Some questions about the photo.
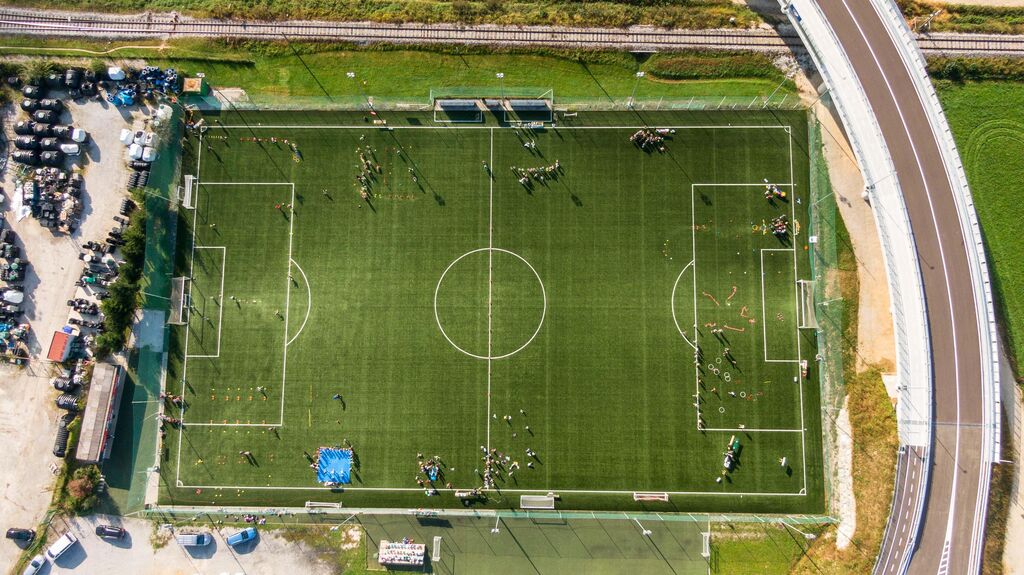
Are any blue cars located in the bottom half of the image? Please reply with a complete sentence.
Yes, there is a blue car in the bottom half of the image.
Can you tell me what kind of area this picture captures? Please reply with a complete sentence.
This image shows a sports ground.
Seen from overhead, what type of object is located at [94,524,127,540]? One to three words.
car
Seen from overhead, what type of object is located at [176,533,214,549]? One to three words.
car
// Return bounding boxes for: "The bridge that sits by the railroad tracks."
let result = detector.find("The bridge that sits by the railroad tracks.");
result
[773,0,1004,463]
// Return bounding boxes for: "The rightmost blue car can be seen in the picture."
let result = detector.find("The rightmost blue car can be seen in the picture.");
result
[225,527,259,547]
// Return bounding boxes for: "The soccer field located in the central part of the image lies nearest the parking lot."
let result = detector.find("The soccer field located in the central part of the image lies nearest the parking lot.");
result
[158,109,826,513]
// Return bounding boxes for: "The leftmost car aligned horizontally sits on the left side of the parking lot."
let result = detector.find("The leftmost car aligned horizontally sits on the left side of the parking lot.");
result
[6,528,37,542]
